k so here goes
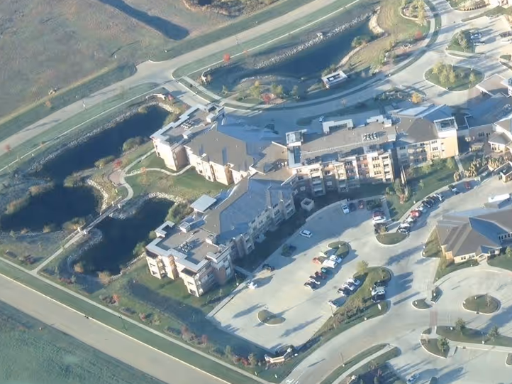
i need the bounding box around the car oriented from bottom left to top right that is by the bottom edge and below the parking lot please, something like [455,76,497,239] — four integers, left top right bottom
[406,371,420,384]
